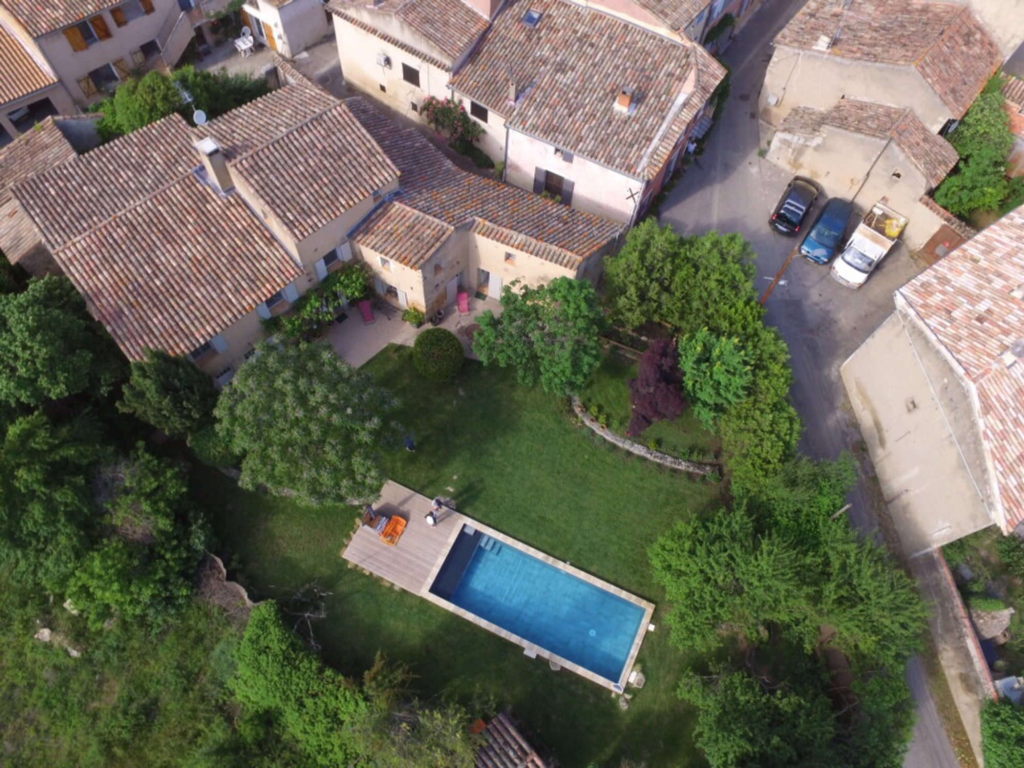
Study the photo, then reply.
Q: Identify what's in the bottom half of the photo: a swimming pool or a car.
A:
swimming pool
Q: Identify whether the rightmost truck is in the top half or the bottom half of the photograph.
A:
top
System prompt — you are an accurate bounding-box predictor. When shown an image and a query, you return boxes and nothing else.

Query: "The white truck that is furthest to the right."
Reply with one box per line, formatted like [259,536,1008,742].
[838,202,906,290]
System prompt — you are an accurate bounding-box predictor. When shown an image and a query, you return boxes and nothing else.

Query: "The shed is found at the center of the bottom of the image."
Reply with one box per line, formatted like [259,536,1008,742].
[460,710,544,768]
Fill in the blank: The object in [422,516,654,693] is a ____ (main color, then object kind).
blue swimming pool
